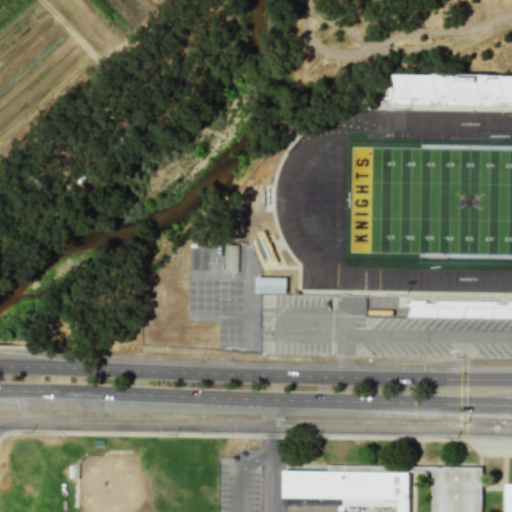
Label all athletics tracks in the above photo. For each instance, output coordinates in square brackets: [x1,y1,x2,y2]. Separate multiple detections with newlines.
[278,111,512,290]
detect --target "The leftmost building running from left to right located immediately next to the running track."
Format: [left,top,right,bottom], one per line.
[256,278,290,293]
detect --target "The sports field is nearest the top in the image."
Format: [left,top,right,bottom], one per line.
[348,132,512,269]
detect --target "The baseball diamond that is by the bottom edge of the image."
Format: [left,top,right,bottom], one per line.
[74,450,152,512]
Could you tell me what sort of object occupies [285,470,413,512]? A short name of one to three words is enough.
building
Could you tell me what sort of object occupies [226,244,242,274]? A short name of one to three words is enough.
building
